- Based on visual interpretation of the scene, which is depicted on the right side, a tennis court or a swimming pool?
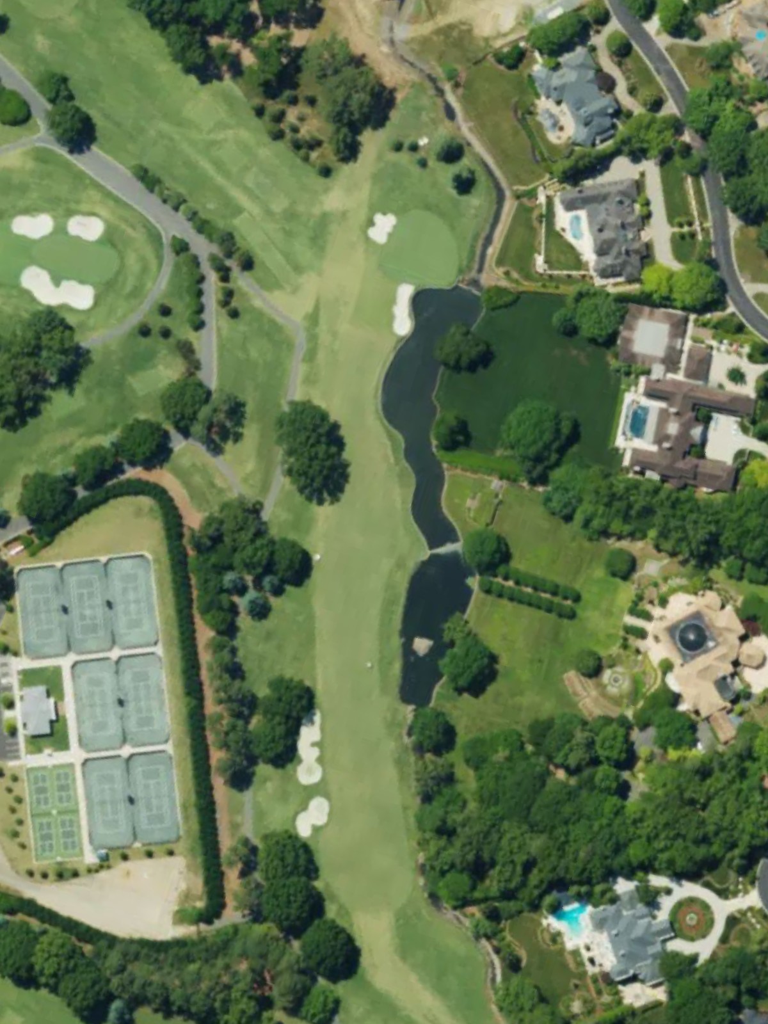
swimming pool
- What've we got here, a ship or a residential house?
residential house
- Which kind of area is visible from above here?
golf course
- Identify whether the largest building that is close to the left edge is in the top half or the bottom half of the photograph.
bottom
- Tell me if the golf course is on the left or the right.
left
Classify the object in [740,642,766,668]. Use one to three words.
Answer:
gazebo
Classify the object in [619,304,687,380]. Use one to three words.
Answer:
house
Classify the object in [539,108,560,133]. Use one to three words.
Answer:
swimming pool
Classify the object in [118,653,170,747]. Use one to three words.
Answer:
tennis court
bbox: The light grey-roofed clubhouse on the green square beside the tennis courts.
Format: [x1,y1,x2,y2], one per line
[20,685,56,736]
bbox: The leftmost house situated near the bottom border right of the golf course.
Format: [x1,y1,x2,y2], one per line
[589,889,679,990]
